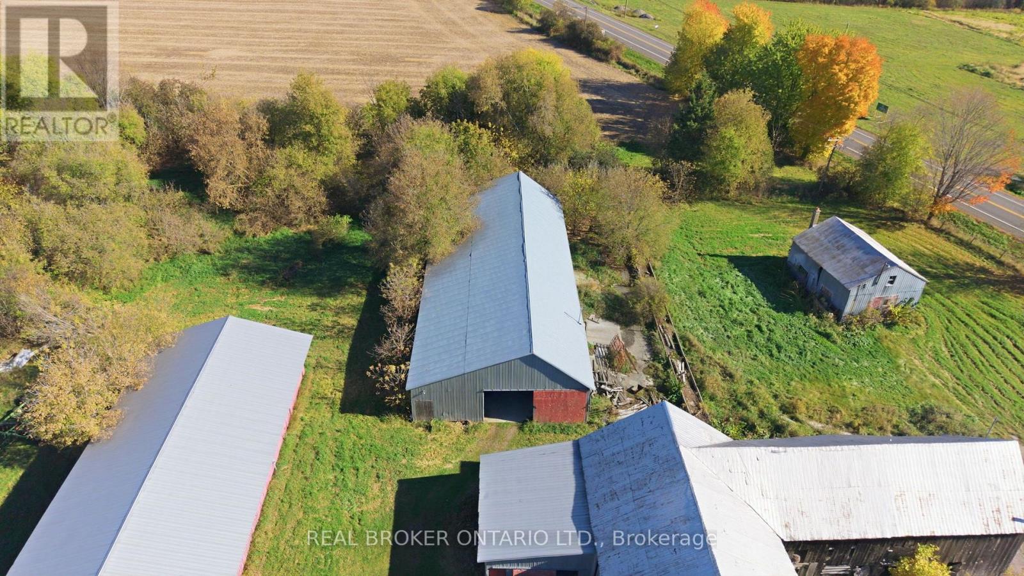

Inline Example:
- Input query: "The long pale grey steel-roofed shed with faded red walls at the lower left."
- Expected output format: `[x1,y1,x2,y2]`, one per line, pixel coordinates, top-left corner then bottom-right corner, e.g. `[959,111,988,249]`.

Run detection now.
[5,315,313,576]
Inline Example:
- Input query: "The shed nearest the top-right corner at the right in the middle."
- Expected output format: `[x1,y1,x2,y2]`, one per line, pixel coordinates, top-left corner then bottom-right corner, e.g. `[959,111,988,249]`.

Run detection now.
[788,206,929,317]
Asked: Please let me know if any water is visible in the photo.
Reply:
No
